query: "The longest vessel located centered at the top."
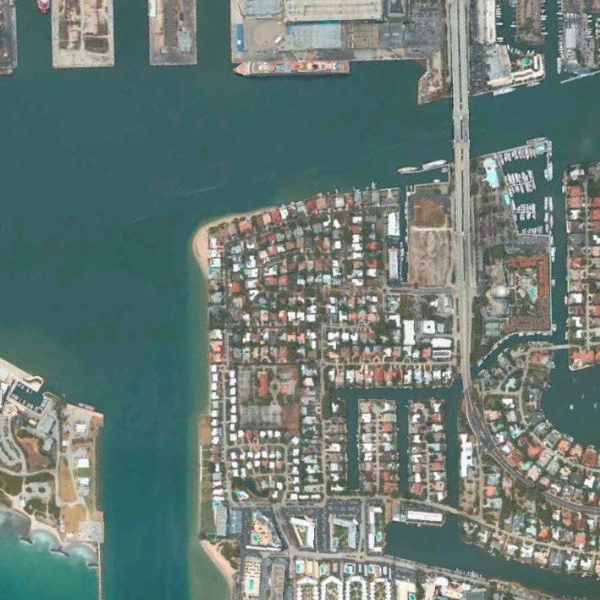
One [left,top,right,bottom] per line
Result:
[235,60,350,75]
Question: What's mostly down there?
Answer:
water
